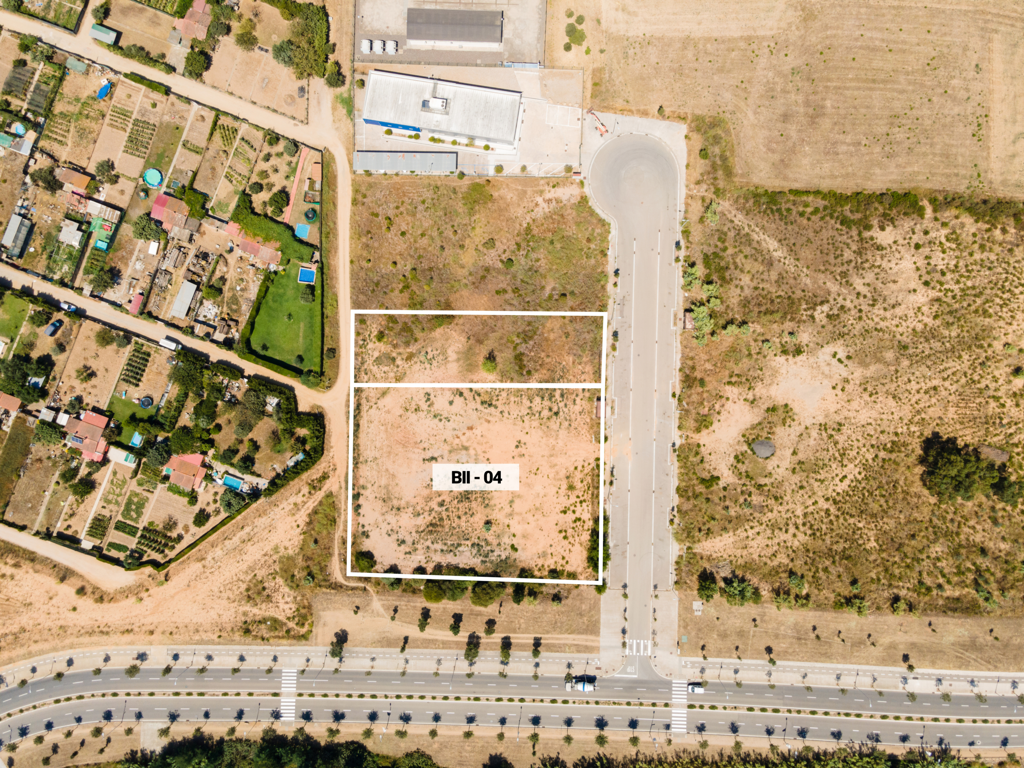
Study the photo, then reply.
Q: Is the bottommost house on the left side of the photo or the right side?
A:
left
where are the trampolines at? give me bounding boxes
[138,397,152,409]
[303,208,316,221]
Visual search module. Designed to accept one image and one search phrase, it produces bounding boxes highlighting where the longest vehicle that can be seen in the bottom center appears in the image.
[565,681,594,693]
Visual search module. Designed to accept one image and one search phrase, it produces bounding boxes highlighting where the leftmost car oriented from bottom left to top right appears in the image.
[45,320,63,334]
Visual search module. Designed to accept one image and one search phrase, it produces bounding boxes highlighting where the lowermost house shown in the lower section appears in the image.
[164,453,209,490]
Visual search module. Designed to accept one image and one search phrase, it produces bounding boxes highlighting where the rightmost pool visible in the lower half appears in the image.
[221,476,244,491]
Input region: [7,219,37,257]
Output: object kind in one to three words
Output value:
barn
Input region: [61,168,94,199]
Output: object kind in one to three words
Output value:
house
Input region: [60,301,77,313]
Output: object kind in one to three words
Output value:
vehicle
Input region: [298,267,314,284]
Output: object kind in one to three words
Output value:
swimming pool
